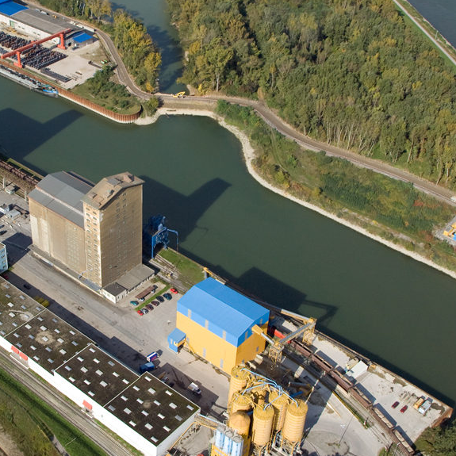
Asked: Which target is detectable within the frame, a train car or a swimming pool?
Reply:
train car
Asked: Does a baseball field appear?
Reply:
No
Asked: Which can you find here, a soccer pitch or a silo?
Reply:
silo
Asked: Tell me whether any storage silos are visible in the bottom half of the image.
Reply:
Yes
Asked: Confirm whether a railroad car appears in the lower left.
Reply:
No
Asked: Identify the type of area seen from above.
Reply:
port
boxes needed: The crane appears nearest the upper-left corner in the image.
[0,28,67,69]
